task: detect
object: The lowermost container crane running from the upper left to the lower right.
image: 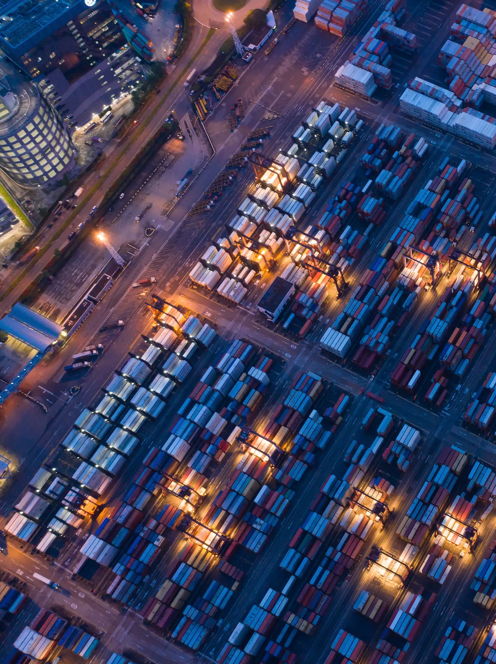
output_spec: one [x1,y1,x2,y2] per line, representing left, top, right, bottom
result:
[366,546,414,587]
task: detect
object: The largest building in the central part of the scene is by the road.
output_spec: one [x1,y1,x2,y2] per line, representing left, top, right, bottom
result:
[253,264,305,324]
